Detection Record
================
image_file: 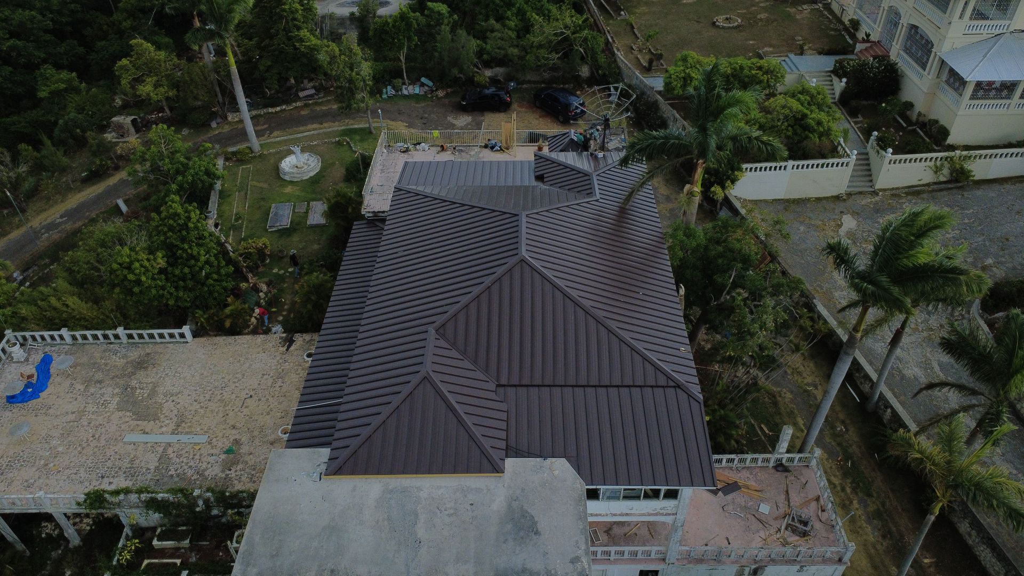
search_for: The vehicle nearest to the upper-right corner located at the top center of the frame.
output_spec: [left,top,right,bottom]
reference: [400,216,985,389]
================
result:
[534,86,588,123]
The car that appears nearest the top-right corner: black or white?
black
